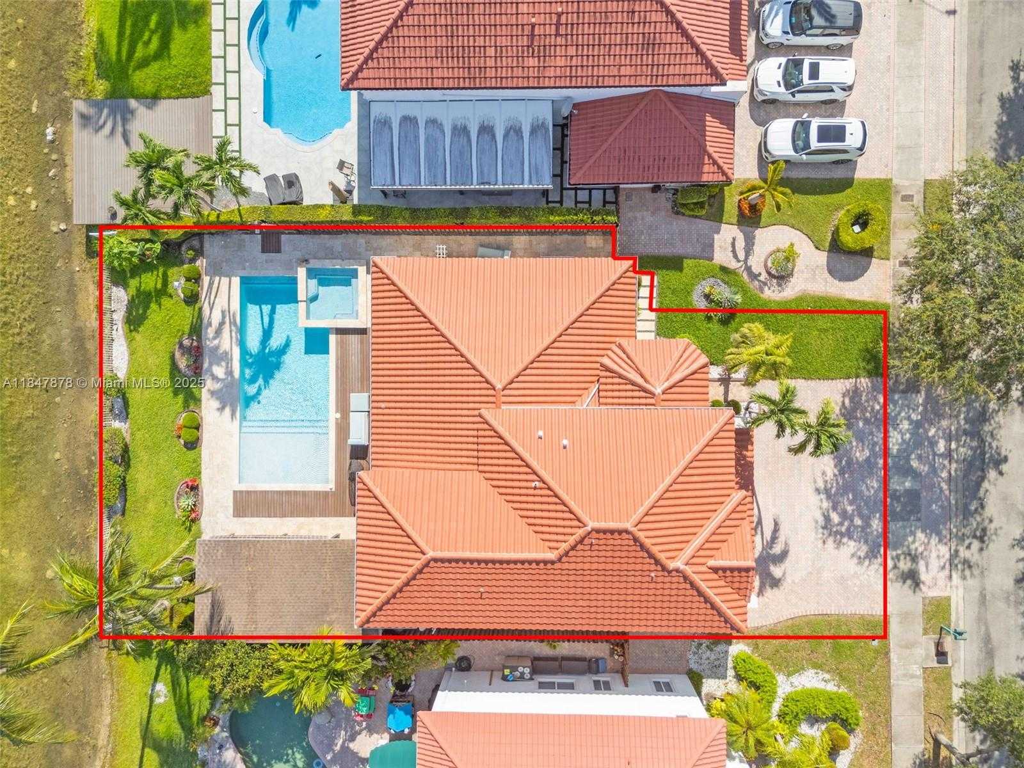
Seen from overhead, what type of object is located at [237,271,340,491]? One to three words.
swimming pool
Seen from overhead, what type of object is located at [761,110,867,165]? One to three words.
car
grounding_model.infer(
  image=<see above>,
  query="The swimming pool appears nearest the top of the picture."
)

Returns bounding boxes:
[248,0,353,144]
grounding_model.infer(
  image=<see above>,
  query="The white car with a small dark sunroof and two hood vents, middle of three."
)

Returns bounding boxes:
[753,49,856,105]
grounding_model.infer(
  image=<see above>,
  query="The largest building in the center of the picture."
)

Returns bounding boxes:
[352,254,761,637]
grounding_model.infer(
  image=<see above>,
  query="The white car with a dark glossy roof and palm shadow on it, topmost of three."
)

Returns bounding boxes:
[760,0,864,46]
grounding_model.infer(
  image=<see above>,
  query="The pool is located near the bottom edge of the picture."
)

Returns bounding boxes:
[225,679,327,768]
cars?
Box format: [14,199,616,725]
[761,110,867,165]
[753,49,856,105]
[760,0,864,46]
